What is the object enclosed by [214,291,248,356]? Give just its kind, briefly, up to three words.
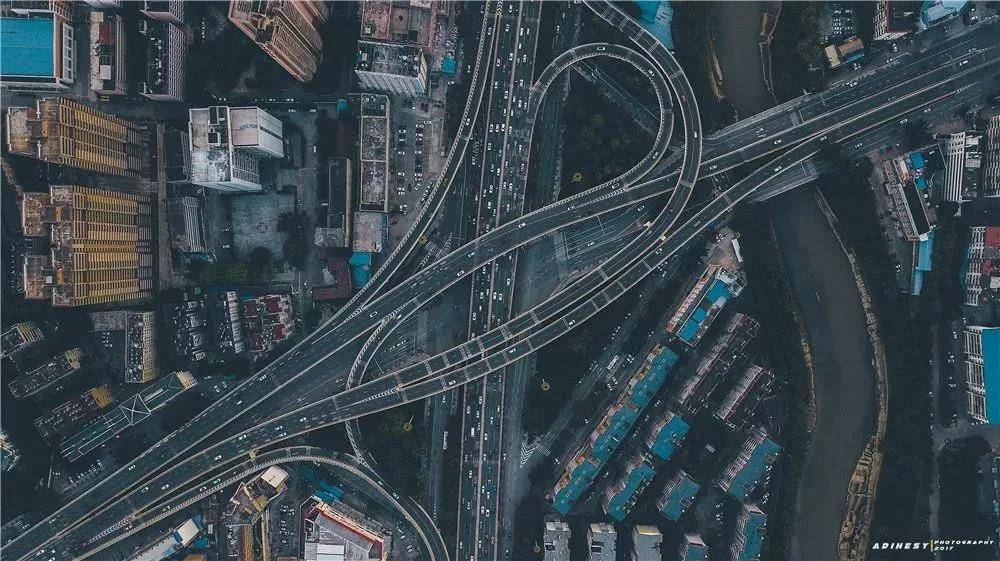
building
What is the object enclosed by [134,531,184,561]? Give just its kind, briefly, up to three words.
shed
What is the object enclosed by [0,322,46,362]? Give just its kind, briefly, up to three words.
building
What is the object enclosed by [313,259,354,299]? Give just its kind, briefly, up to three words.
house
